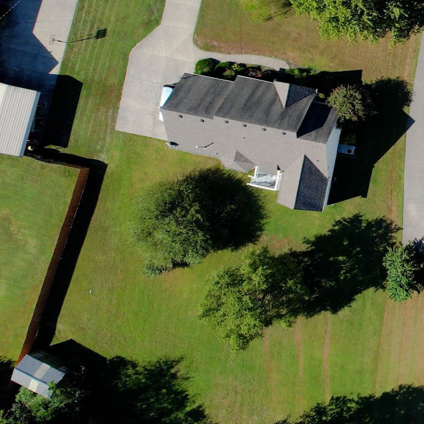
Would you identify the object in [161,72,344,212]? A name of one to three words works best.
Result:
house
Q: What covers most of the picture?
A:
grass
